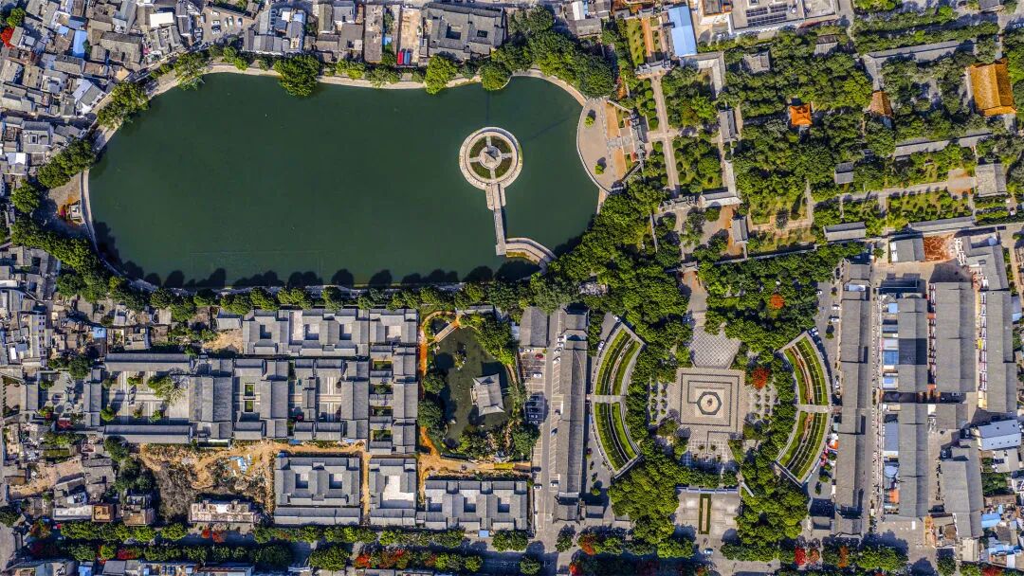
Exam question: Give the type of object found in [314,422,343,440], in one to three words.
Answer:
building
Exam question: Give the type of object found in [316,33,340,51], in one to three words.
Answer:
house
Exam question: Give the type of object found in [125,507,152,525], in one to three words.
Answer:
house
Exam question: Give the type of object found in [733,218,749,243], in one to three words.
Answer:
building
